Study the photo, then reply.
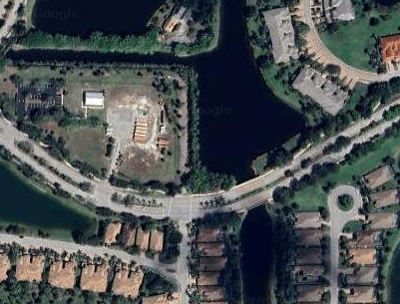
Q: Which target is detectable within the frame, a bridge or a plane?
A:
bridge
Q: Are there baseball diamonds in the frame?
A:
No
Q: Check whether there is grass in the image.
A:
Yes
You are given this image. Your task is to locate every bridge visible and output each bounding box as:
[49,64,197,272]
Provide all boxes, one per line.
[226,172,271,212]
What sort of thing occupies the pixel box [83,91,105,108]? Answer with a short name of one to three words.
shed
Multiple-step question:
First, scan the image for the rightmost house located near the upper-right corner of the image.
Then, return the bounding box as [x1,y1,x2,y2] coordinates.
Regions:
[379,33,400,69]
